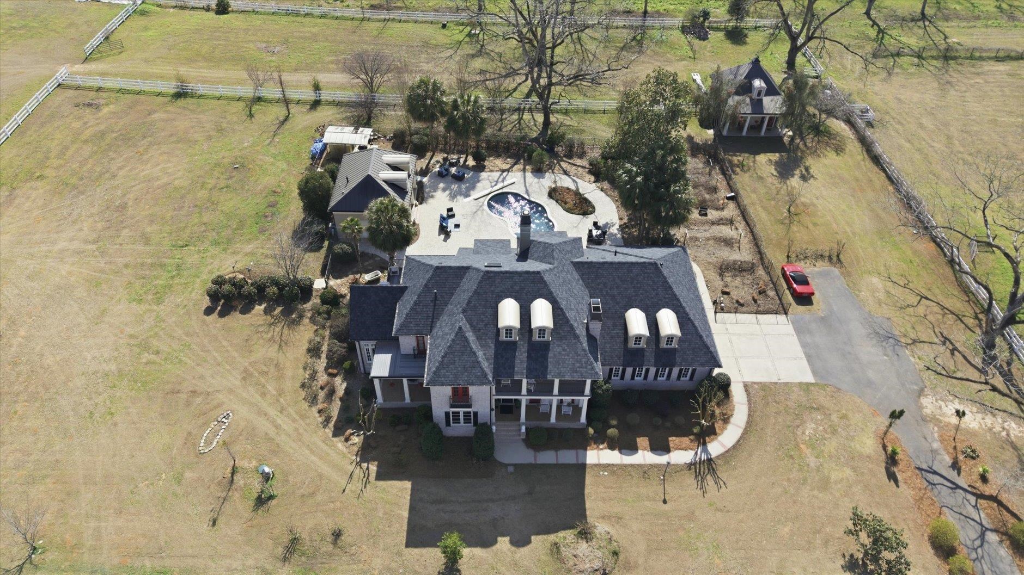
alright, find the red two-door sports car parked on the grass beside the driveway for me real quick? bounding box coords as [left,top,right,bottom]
[783,266,815,298]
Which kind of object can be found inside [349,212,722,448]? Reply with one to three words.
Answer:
house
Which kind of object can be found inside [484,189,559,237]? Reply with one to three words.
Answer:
swimming pool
